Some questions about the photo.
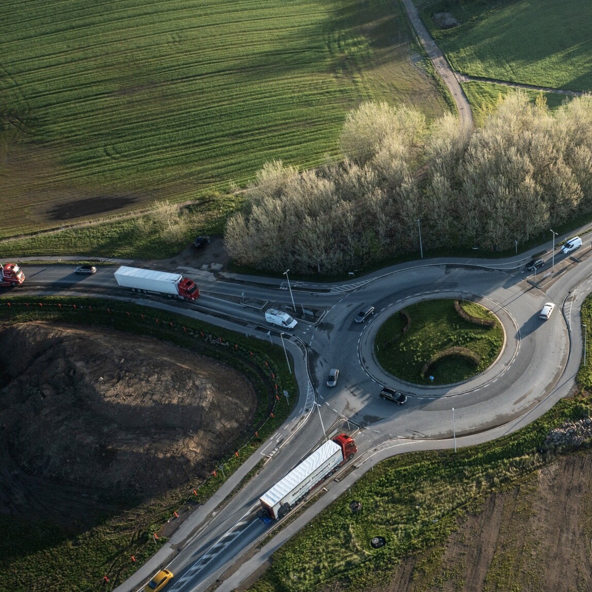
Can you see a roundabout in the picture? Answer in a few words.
Yes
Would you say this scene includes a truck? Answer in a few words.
Yes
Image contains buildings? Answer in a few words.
No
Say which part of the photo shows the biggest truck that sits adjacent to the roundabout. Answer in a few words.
bottom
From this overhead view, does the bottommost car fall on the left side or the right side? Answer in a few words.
left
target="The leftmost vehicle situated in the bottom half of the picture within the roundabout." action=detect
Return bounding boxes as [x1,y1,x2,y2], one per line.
[324,366,339,386]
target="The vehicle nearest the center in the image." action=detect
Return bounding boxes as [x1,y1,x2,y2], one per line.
[263,305,296,328]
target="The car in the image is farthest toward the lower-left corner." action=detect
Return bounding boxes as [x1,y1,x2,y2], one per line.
[142,566,174,592]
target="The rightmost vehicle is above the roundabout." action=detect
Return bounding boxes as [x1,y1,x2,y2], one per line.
[562,235,582,252]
